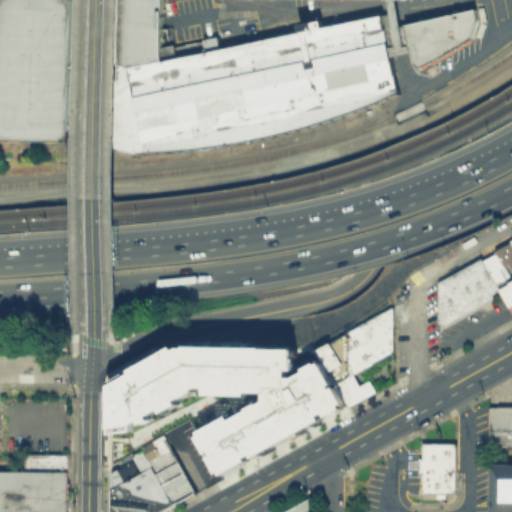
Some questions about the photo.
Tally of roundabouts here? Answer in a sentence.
Not a single roundabout can be seen.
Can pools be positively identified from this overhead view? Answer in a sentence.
No, the scene contains no pool.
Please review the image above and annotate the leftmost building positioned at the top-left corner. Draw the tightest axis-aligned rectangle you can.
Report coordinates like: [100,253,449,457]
[0,0,67,139]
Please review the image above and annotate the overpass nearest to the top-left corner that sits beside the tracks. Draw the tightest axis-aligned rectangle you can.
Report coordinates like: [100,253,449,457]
[68,0,114,337]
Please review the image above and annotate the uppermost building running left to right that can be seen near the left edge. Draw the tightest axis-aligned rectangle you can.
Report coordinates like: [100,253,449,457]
[25,454,68,470]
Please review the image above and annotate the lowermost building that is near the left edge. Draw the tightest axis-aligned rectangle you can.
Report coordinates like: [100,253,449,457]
[0,472,68,512]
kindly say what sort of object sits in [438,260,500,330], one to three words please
building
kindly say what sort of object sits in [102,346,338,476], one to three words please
building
